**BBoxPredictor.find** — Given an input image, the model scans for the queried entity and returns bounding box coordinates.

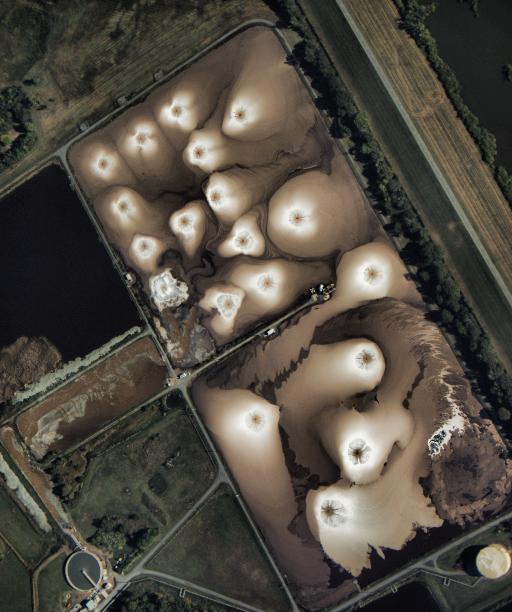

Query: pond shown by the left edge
[0,163,144,405]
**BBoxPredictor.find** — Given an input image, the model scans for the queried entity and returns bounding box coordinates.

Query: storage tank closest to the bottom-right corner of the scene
[476,543,512,580]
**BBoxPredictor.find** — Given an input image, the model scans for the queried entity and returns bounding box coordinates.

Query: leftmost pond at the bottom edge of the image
[354,580,440,612]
